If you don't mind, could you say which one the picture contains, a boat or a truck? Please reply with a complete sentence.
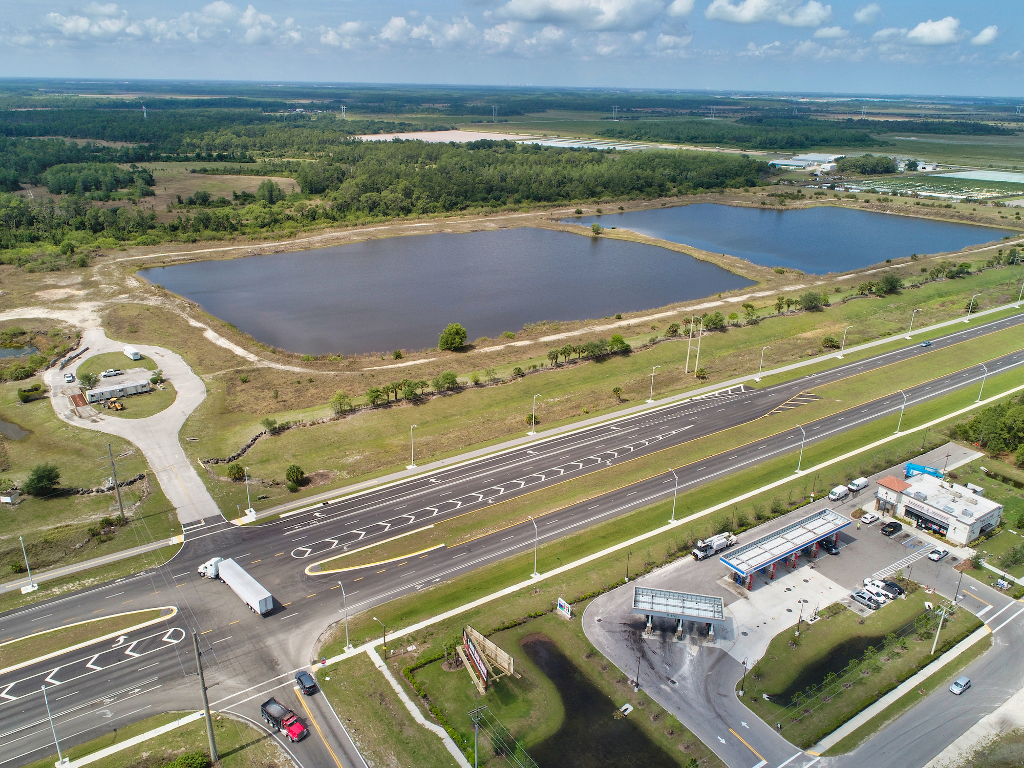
The one in the frame is a truck.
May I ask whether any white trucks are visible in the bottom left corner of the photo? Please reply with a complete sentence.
Yes, there is a white truck in the bottom left corner of the photo.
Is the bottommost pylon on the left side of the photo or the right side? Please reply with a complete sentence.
You can find the bottommost pylon on the right side of the picture.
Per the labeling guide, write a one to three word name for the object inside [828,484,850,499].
vehicle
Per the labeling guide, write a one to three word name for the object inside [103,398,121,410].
vehicle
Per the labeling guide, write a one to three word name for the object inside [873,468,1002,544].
building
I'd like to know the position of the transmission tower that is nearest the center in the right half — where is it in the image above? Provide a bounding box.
[685,316,705,377]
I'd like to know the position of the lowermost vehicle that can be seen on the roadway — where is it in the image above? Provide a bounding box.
[256,696,311,743]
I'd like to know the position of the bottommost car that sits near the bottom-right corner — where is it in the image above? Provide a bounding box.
[949,674,975,694]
